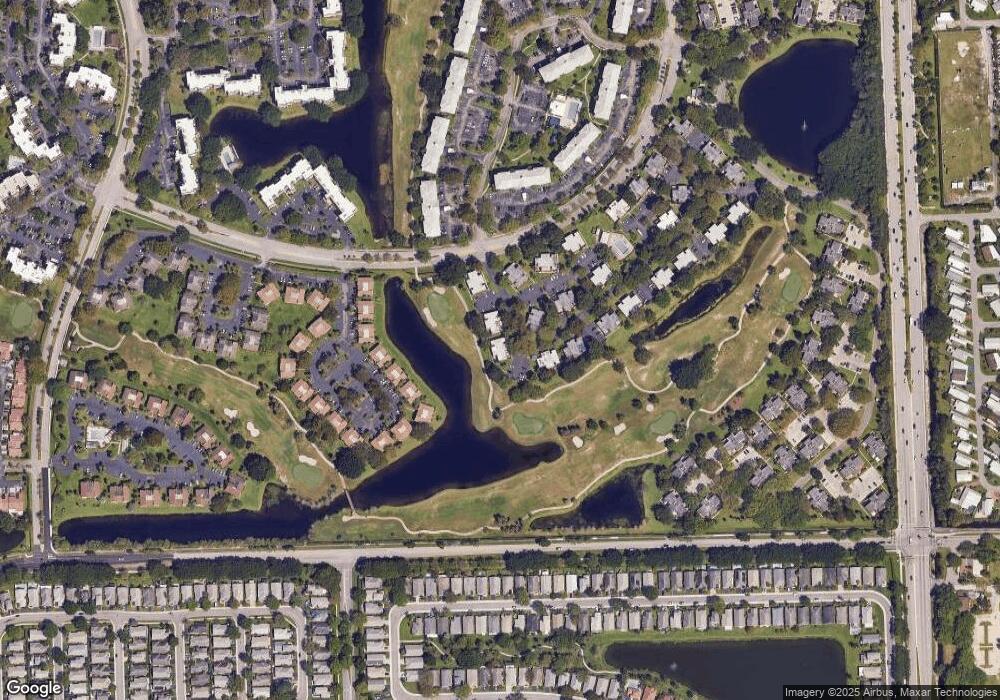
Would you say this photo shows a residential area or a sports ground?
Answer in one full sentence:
The area seen from above is a residential area.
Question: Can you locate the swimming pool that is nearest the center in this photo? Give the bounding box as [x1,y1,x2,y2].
[607,232,633,260]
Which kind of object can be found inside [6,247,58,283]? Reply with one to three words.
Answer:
building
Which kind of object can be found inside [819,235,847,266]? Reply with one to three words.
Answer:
house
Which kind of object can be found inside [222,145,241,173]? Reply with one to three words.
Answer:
swimming pool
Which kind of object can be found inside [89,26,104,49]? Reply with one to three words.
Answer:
swimming pool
